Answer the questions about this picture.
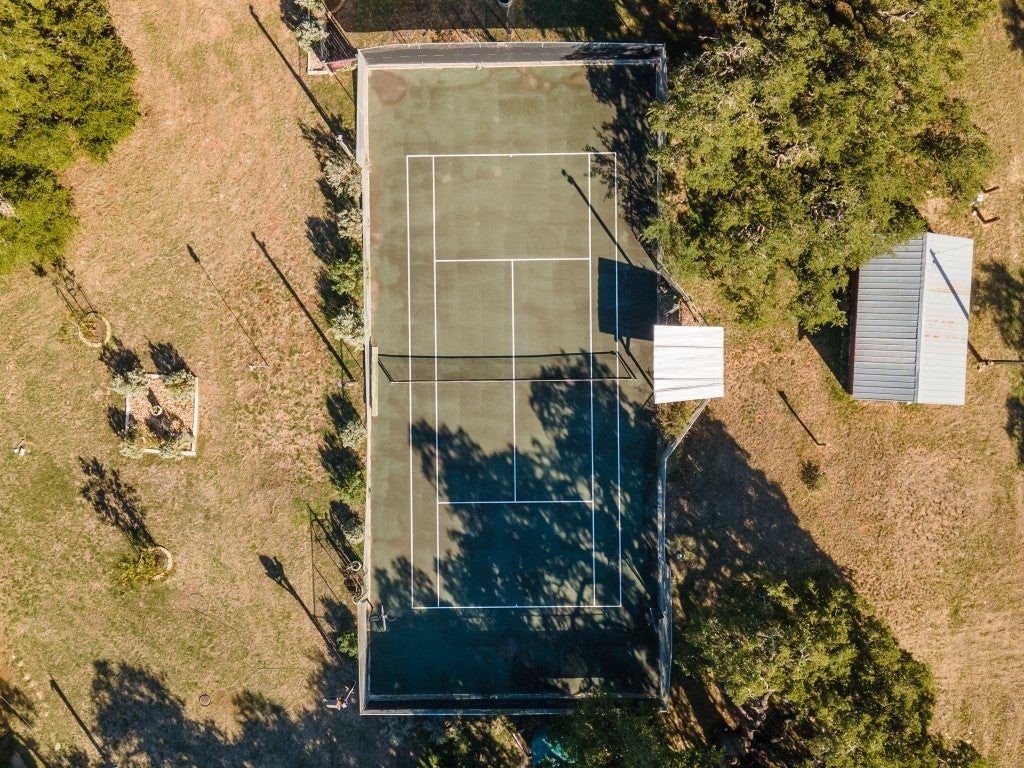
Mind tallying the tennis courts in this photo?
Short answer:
1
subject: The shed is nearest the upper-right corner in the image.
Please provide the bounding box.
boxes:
[847,232,973,405]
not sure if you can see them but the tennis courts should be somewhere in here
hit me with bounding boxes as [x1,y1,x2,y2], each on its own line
[367,62,662,698]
